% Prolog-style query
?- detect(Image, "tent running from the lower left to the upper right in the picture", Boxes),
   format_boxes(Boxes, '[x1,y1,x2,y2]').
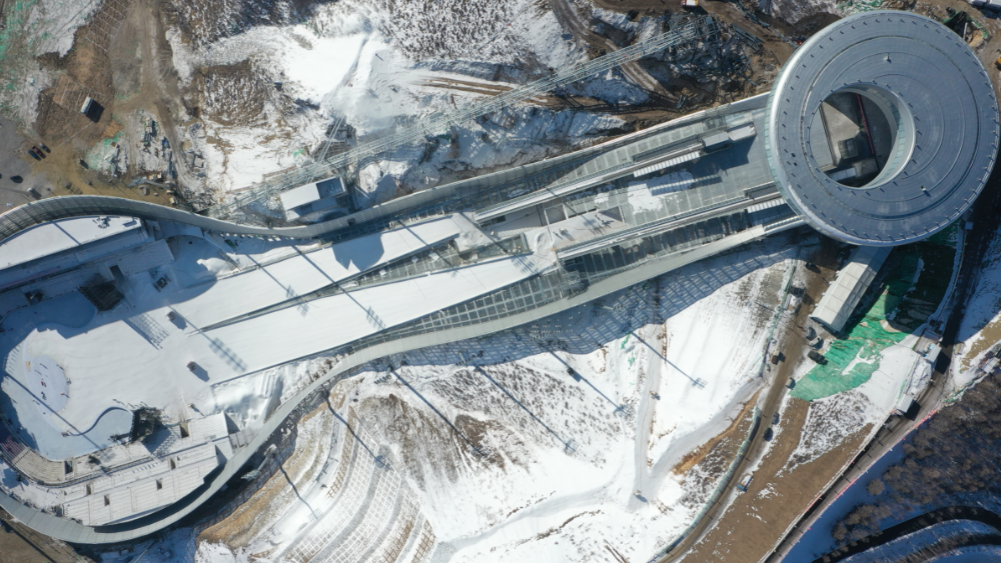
[817,244,898,331]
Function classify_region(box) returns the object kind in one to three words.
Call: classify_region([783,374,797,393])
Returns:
vehicle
